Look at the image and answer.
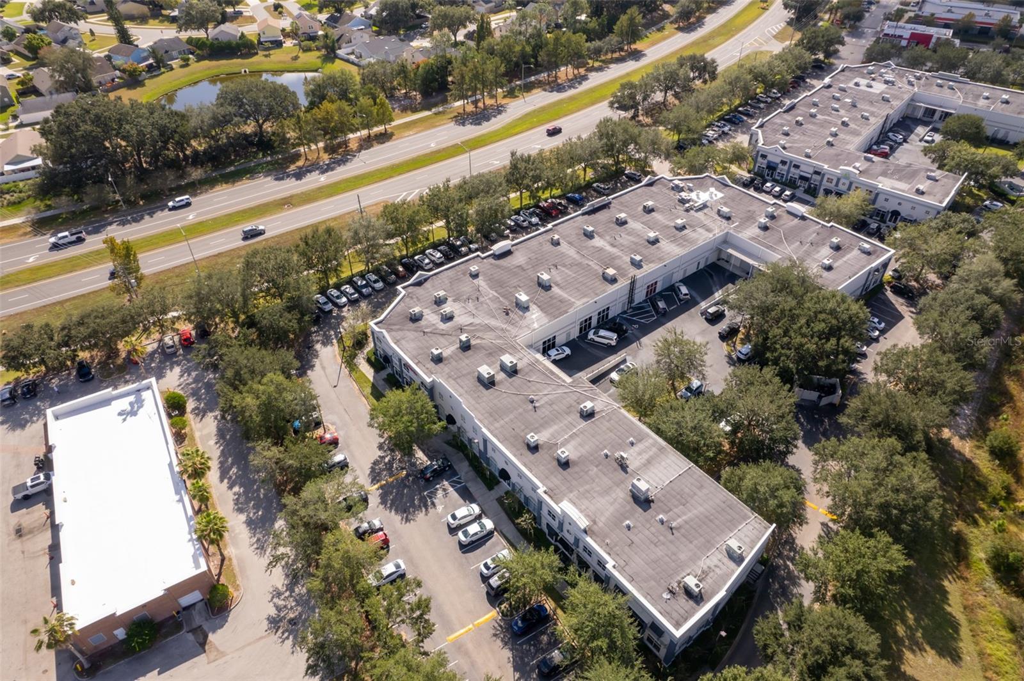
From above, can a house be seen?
Yes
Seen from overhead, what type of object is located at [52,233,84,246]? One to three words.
vehicle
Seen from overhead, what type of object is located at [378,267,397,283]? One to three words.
car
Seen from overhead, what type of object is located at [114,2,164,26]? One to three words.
house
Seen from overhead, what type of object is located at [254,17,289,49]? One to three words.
house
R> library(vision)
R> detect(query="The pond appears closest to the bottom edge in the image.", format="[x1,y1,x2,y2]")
[160,71,324,114]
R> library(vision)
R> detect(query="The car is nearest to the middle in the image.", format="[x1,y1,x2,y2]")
[544,346,571,363]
